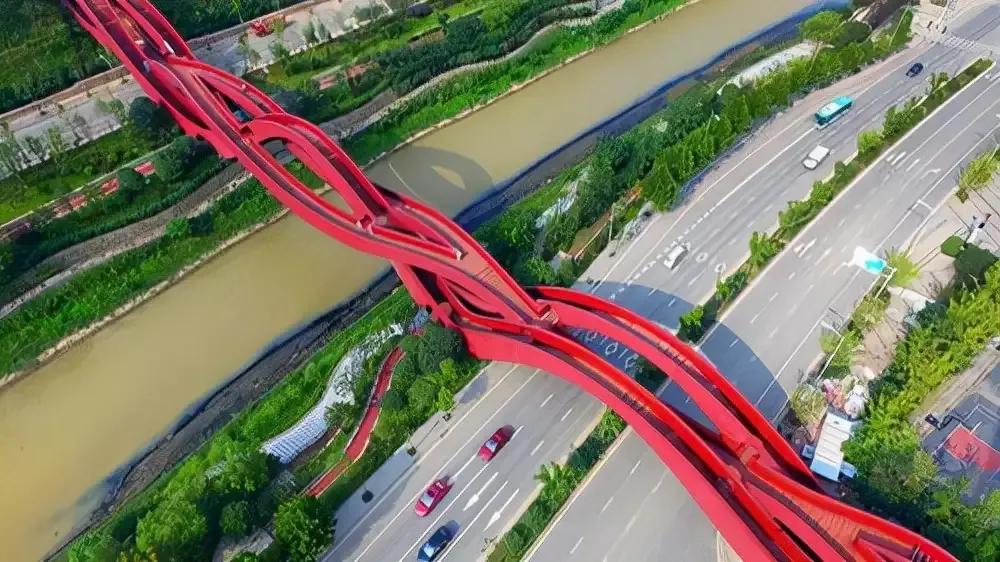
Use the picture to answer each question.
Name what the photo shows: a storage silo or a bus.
bus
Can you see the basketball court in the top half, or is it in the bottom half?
bottom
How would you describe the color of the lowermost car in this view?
blue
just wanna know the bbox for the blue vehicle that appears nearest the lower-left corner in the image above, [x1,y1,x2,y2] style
[414,518,457,562]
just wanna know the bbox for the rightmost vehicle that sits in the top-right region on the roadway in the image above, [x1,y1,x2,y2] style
[903,61,927,78]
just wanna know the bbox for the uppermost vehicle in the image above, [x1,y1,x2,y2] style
[247,12,273,36]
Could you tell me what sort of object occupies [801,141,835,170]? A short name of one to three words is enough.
van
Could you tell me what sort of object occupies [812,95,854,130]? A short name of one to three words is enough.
bus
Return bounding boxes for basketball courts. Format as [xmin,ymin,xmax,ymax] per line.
[915,371,1000,490]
